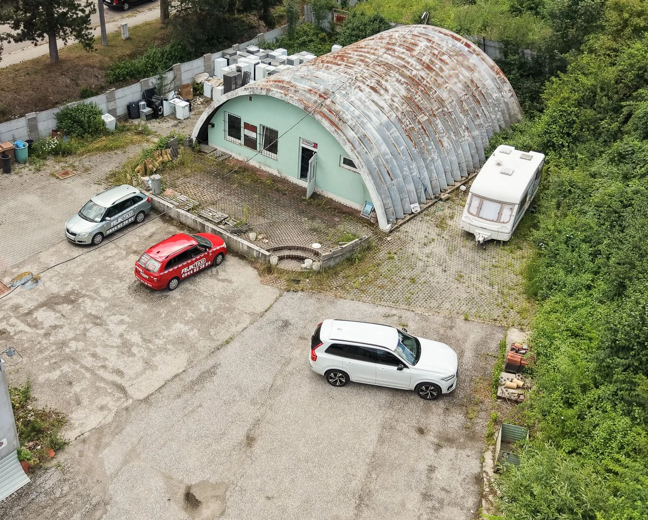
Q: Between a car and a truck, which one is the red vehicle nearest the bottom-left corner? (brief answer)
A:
car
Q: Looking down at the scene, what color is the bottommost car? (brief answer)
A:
white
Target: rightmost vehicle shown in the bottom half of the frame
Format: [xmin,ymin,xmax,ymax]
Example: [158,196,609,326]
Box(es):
[308,316,460,401]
